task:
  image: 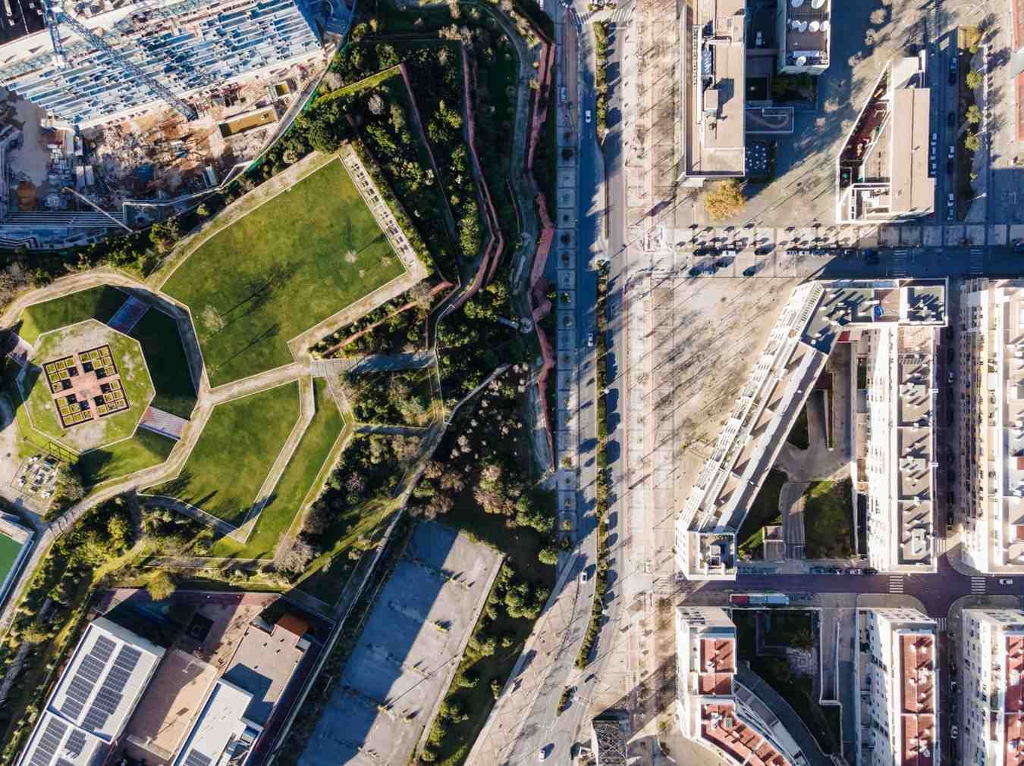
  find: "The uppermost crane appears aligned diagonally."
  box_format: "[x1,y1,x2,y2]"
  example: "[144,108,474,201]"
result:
[47,0,199,123]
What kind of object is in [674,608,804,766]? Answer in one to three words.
building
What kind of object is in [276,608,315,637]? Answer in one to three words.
building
